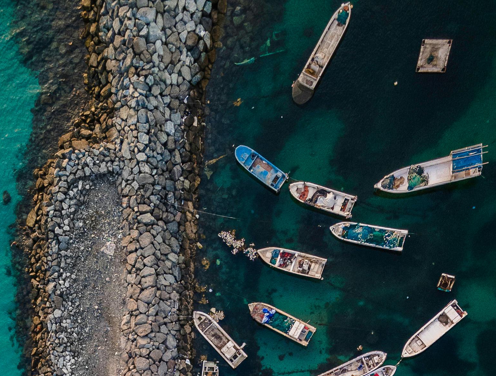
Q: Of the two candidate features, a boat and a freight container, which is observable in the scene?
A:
boat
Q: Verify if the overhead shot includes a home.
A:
No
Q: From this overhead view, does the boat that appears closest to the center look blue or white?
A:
blue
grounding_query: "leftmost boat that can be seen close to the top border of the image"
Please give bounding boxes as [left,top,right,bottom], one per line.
[294,1,350,101]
